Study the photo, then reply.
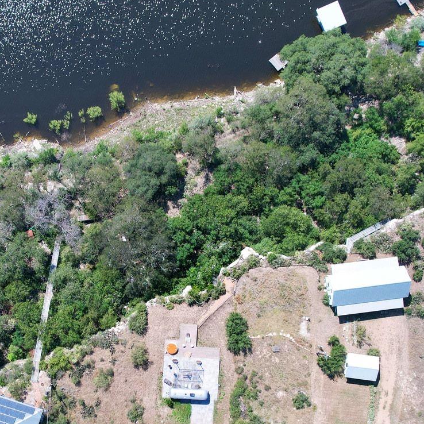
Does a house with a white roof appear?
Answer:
Yes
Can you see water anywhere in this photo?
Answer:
Yes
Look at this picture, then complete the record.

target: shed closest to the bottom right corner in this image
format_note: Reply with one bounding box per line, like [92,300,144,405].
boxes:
[344,353,379,380]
